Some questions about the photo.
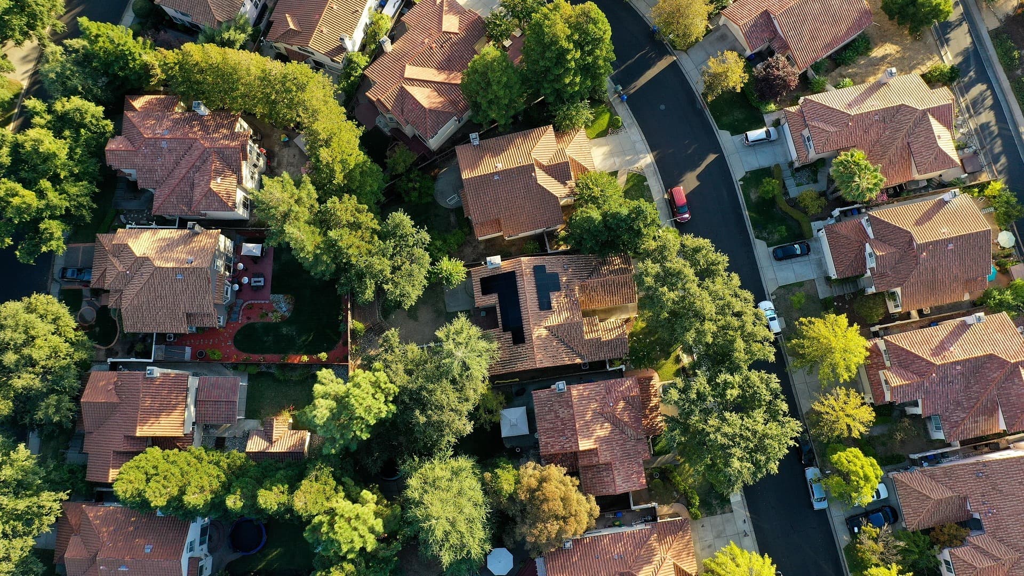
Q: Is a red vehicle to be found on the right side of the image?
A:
Yes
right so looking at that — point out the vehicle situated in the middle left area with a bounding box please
[57,266,91,283]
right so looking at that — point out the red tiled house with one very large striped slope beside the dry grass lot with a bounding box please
[721,0,879,78]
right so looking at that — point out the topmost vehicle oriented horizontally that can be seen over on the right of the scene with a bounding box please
[742,126,780,146]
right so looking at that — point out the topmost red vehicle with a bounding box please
[668,185,691,224]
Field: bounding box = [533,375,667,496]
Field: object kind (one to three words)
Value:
house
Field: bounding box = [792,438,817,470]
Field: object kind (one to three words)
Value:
car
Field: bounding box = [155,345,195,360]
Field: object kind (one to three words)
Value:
shed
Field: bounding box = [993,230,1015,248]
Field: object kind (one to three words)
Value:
umbrella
